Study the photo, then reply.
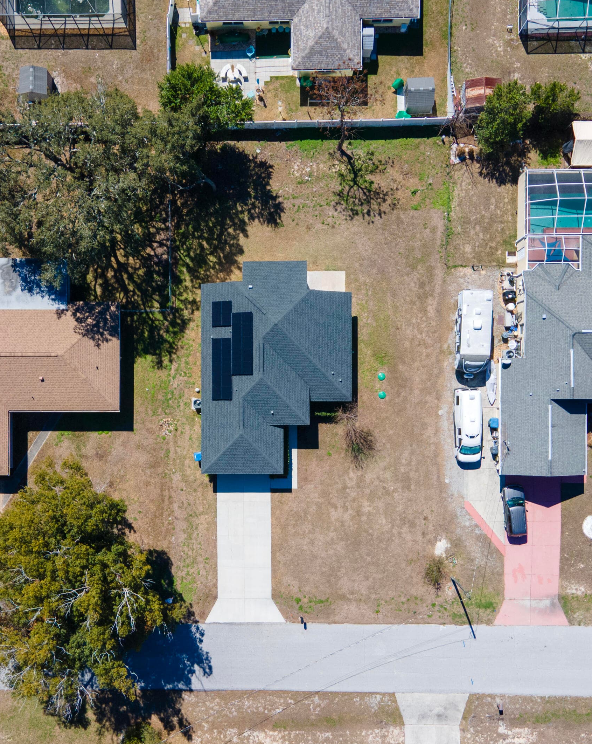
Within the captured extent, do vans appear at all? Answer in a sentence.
Yes, I can see a van in this picture.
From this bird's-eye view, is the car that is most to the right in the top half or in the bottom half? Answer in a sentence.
It is in the bottom half that the car that is most to the right appears.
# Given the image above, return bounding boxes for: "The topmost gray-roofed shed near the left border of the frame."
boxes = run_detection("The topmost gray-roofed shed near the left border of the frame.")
[19,64,51,100]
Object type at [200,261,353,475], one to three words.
house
